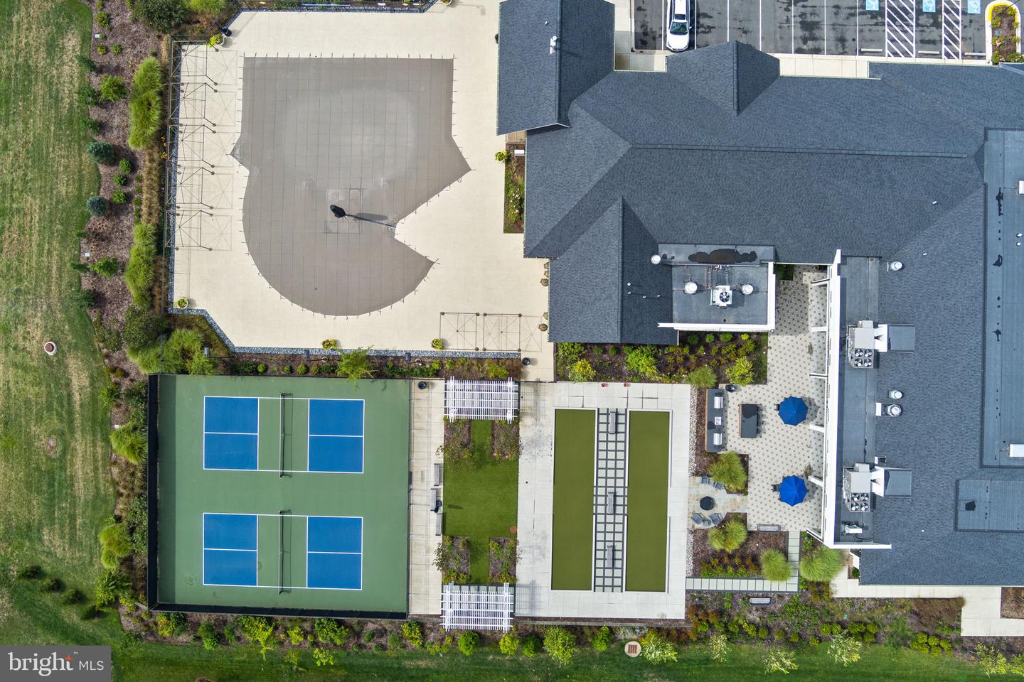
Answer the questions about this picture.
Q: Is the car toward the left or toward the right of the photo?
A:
right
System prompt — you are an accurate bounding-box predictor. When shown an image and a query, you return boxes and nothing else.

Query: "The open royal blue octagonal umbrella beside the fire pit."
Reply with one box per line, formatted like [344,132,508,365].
[776,475,806,505]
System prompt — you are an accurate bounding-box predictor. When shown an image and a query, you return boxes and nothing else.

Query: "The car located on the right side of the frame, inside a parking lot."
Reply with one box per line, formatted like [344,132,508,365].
[665,0,694,46]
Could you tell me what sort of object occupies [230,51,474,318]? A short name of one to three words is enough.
swimming pool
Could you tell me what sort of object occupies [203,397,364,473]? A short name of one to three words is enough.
sports court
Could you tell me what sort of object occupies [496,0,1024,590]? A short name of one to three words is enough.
building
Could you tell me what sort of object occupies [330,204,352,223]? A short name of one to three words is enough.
umbrella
